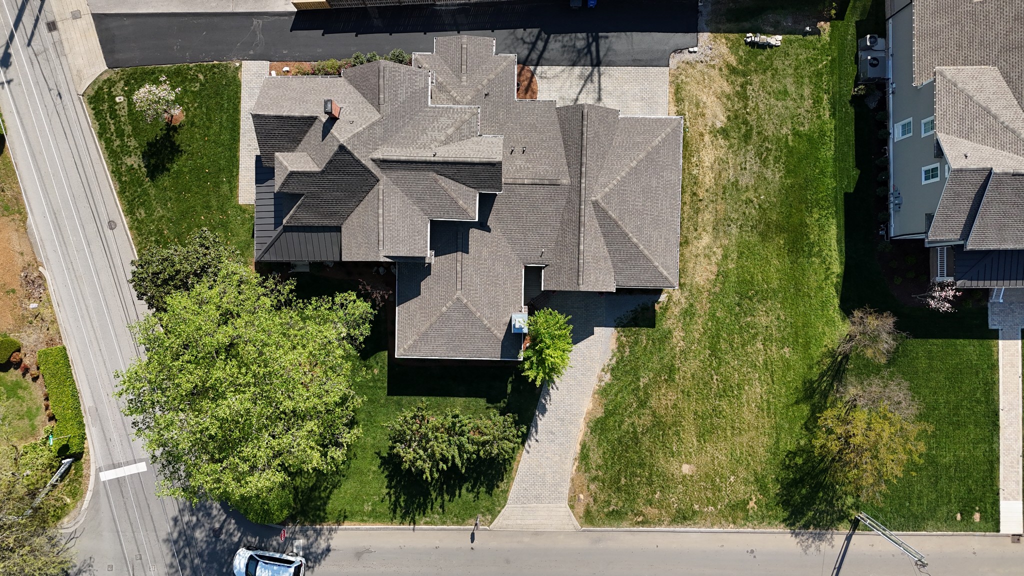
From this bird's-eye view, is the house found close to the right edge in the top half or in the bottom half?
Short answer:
top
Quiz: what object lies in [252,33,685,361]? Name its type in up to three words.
house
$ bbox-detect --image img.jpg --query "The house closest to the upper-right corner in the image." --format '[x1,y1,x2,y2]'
[888,0,1024,304]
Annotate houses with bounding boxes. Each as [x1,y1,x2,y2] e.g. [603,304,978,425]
[252,33,685,361]
[888,0,1024,304]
